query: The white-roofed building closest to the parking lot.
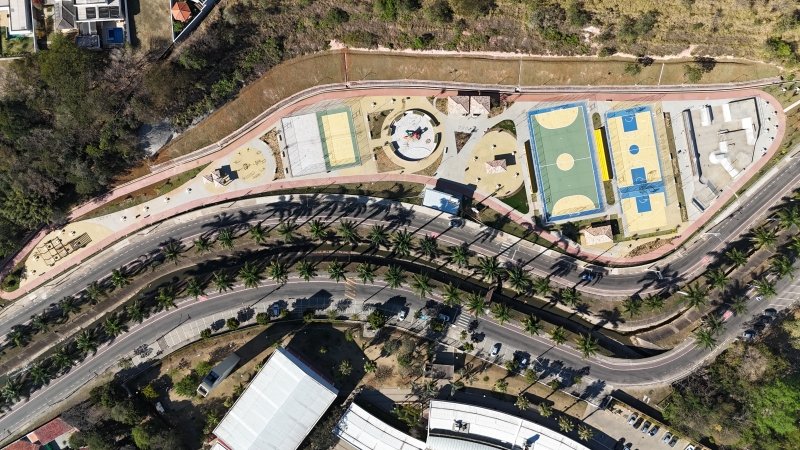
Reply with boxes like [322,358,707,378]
[427,398,588,450]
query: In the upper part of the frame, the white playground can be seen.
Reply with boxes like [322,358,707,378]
[390,107,440,159]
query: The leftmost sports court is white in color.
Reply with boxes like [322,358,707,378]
[282,112,327,177]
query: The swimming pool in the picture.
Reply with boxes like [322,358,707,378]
[102,27,125,47]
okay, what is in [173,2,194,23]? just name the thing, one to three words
gazebo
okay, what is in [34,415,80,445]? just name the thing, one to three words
house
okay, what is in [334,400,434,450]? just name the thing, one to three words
building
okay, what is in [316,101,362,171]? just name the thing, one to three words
sports court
